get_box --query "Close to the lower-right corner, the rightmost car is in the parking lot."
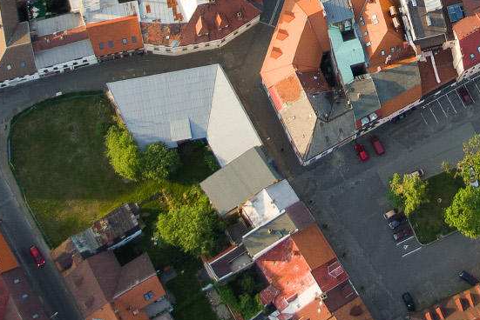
[457,270,479,287]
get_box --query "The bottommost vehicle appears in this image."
[402,290,416,314]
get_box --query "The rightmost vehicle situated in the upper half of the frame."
[457,86,473,108]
